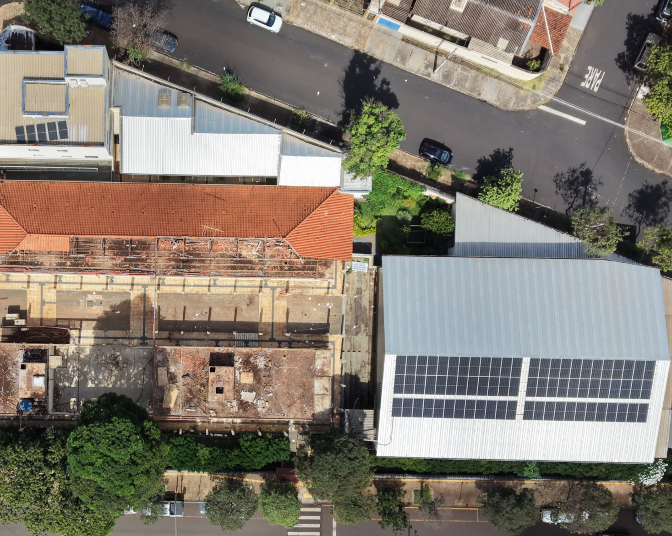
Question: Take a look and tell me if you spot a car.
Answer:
Yes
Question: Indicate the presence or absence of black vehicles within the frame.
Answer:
Yes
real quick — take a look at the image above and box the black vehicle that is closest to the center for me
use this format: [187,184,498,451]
[418,140,452,167]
